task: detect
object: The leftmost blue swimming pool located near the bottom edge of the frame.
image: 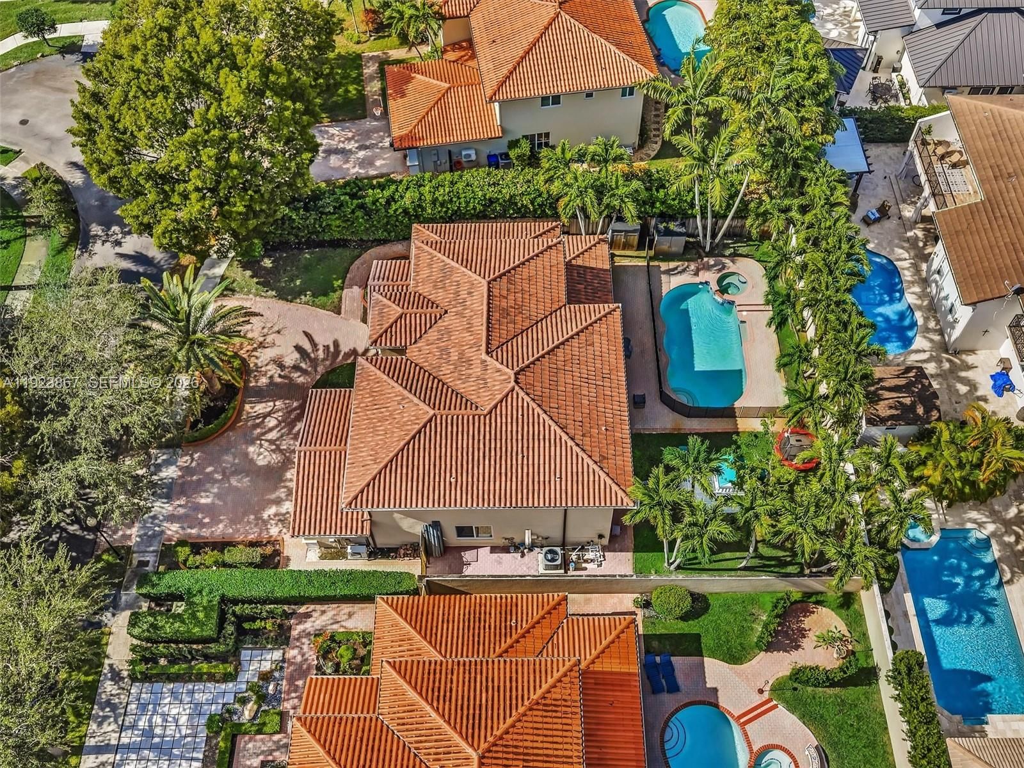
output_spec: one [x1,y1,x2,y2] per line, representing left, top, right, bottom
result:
[656,698,759,768]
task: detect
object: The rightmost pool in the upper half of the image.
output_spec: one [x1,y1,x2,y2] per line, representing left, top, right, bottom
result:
[844,242,923,358]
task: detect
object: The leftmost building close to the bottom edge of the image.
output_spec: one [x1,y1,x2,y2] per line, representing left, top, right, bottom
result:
[282,593,648,768]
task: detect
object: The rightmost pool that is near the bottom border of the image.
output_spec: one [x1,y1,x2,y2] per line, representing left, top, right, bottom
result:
[896,521,1024,733]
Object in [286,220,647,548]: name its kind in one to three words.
house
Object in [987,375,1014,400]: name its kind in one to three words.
umbrella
